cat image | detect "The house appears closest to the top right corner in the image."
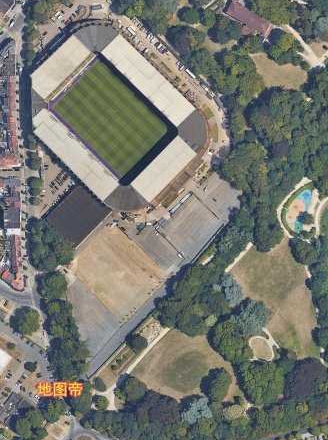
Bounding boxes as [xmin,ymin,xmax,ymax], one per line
[224,0,272,37]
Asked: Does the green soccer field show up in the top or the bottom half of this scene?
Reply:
top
